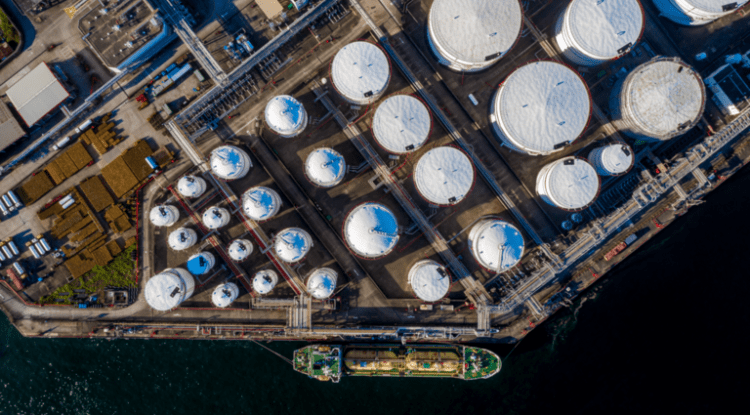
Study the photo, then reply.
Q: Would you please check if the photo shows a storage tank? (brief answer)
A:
Yes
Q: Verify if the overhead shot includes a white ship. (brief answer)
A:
No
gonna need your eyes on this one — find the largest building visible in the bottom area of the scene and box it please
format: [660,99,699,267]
[103,290,129,304]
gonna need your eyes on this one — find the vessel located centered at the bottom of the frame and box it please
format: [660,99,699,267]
[293,342,502,382]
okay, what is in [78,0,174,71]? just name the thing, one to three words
building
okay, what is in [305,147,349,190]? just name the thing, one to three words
storage tank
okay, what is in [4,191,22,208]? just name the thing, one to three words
vehicle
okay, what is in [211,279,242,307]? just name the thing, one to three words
storage tank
